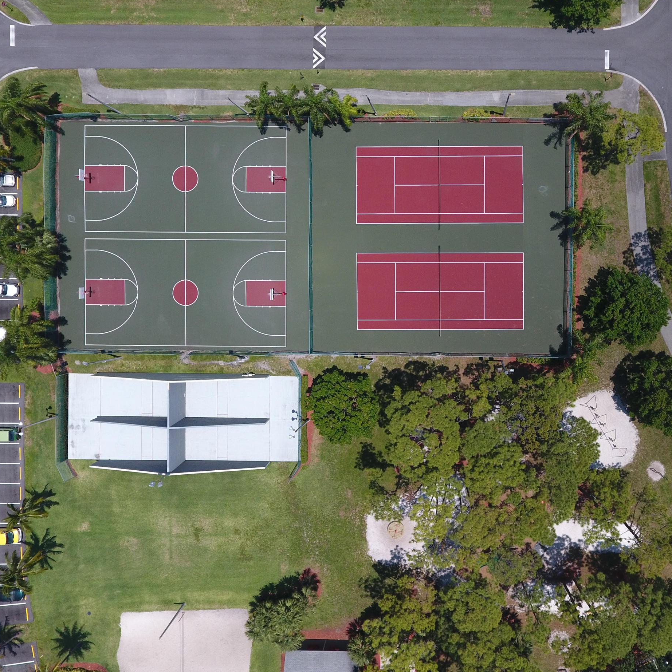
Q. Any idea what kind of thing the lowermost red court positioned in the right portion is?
tennis court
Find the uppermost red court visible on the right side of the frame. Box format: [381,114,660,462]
[356,146,524,224]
